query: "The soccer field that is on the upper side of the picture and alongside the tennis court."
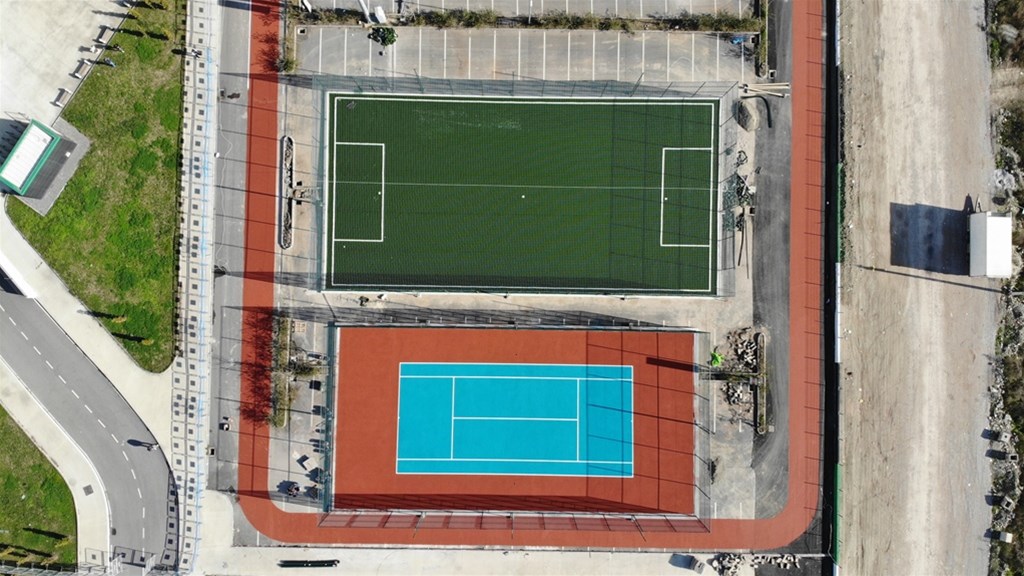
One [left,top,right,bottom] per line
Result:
[322,90,721,298]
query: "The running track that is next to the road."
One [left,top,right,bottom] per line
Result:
[237,0,822,550]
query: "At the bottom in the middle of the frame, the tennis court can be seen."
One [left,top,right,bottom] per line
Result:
[331,322,701,519]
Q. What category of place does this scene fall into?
sports ground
